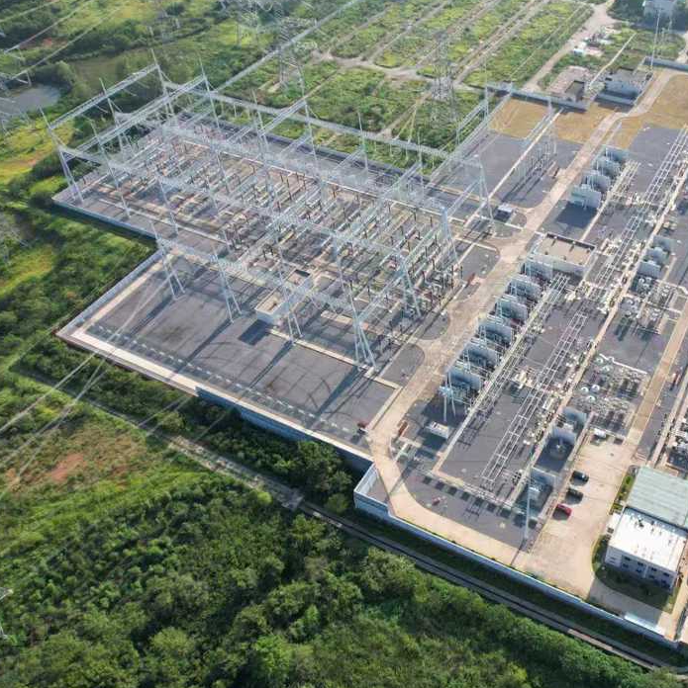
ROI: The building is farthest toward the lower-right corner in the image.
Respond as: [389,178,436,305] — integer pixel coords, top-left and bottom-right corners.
[600,507,688,593]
